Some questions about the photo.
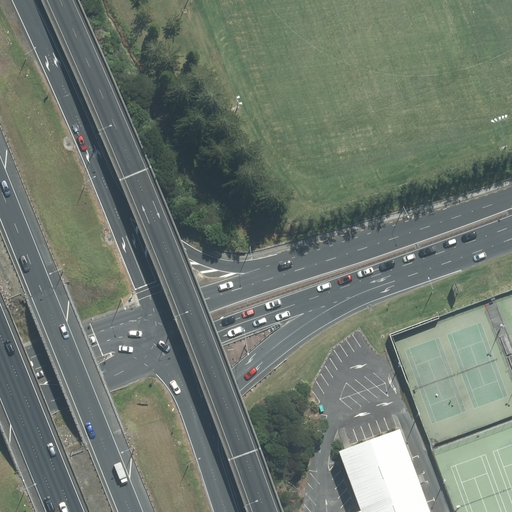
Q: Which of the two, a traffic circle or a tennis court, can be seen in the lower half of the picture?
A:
tennis court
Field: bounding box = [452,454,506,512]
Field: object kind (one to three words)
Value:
tennis court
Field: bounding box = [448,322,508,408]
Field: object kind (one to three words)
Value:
tennis court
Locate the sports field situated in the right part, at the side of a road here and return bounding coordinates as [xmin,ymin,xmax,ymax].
[198,0,512,220]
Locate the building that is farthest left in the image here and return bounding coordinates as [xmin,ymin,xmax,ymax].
[339,430,429,512]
